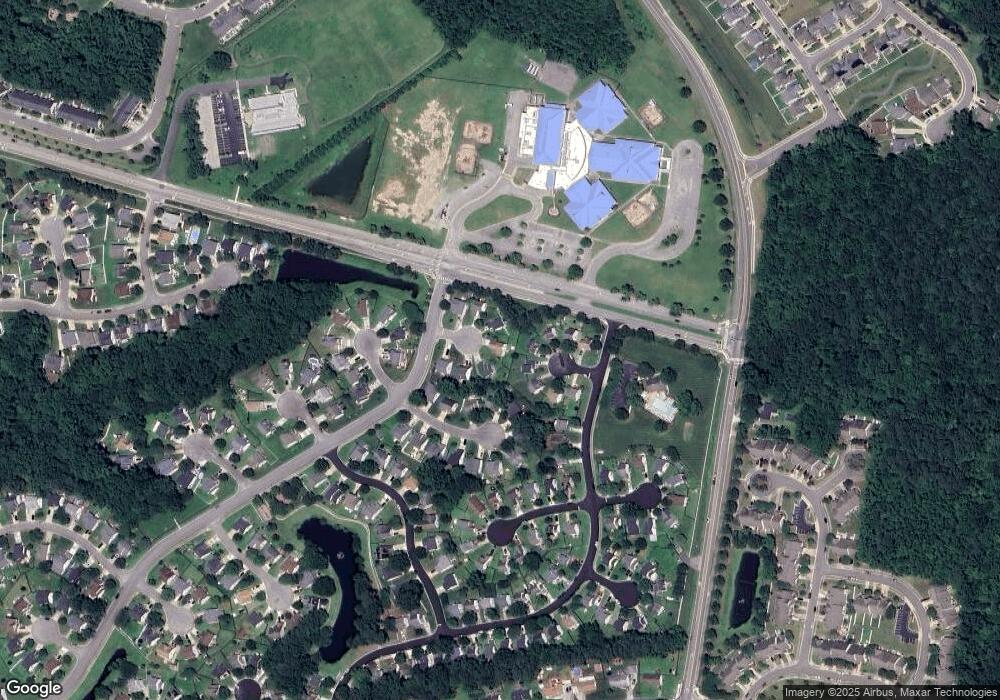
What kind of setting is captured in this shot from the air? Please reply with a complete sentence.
The picture captures a residential area.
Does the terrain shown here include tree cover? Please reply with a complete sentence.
Yes, there is tree cover in the image.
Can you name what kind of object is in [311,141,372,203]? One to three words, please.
pond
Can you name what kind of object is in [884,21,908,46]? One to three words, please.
house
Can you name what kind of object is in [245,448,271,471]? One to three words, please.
house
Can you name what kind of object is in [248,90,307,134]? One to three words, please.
building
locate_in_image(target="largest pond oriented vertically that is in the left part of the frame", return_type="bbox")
[298,515,355,662]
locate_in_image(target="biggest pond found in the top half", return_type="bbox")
[277,250,418,297]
